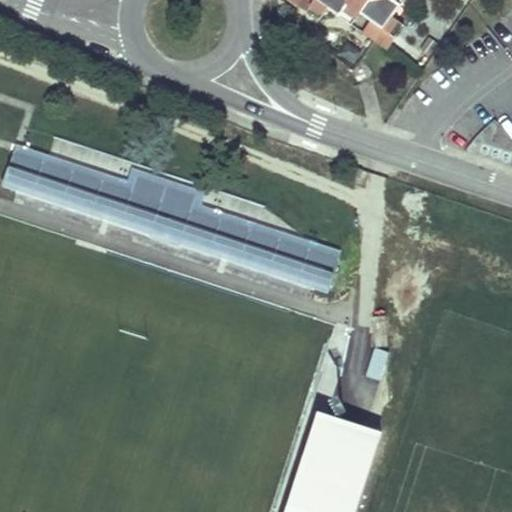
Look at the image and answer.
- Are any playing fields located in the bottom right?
Yes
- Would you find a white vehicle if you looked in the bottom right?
No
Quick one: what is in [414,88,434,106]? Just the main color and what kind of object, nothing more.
white car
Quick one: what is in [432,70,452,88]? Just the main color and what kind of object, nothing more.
white car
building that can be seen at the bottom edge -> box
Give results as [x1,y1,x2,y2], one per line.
[284,412,382,512]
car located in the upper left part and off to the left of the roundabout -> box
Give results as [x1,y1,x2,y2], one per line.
[88,40,112,57]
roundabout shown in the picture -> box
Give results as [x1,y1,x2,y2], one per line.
[111,0,253,86]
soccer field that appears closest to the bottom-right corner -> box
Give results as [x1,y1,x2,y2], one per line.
[396,443,512,512]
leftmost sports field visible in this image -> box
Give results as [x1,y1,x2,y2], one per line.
[0,216,332,512]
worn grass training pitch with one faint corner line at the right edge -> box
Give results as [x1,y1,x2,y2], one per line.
[400,310,512,468]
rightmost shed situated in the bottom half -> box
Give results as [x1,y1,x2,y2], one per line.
[366,348,390,381]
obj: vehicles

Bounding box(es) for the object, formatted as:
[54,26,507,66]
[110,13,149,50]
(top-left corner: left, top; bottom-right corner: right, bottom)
[481,33,498,54]
[474,104,492,124]
[414,88,434,106]
[432,70,452,88]
[471,37,488,58]
[463,45,479,66]
[500,117,512,142]
[494,22,512,44]
[448,130,468,148]
[443,66,463,83]
[372,308,387,316]
[88,40,112,57]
